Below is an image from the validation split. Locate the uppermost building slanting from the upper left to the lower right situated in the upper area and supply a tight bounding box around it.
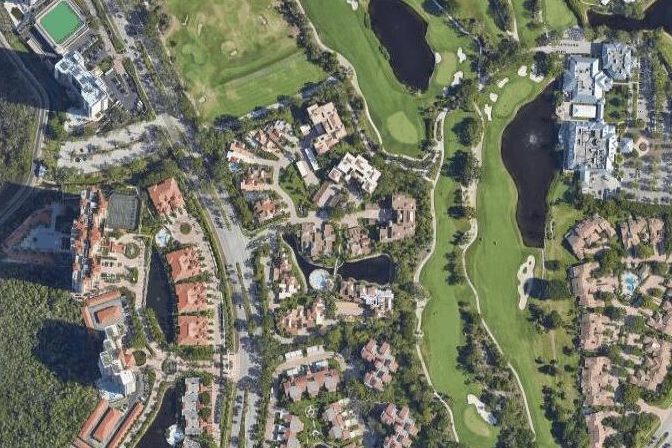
[53,48,113,120]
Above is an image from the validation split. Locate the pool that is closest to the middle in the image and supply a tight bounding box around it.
[309,270,328,289]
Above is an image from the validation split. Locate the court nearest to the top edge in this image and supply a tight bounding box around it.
[108,192,138,229]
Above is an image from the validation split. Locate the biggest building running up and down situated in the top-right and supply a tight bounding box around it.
[560,42,637,195]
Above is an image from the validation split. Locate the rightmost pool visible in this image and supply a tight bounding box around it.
[622,272,638,294]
